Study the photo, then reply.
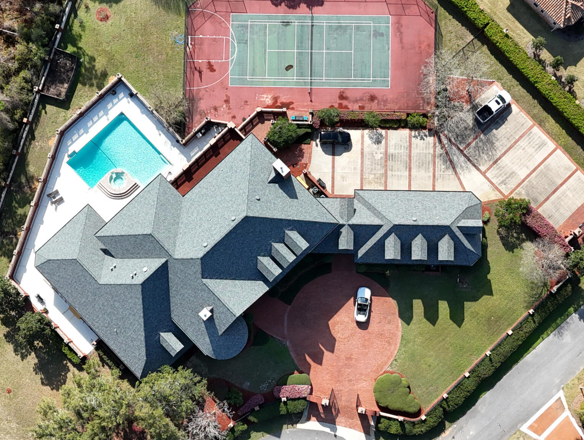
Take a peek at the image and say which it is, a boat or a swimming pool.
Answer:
swimming pool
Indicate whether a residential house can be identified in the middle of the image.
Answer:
Yes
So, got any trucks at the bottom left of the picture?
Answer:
No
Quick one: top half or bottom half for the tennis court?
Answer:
top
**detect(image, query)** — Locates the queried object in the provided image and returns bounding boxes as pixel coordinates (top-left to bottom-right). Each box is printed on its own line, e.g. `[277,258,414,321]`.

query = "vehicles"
[473,90,512,126]
[318,129,352,144]
[355,287,372,322]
